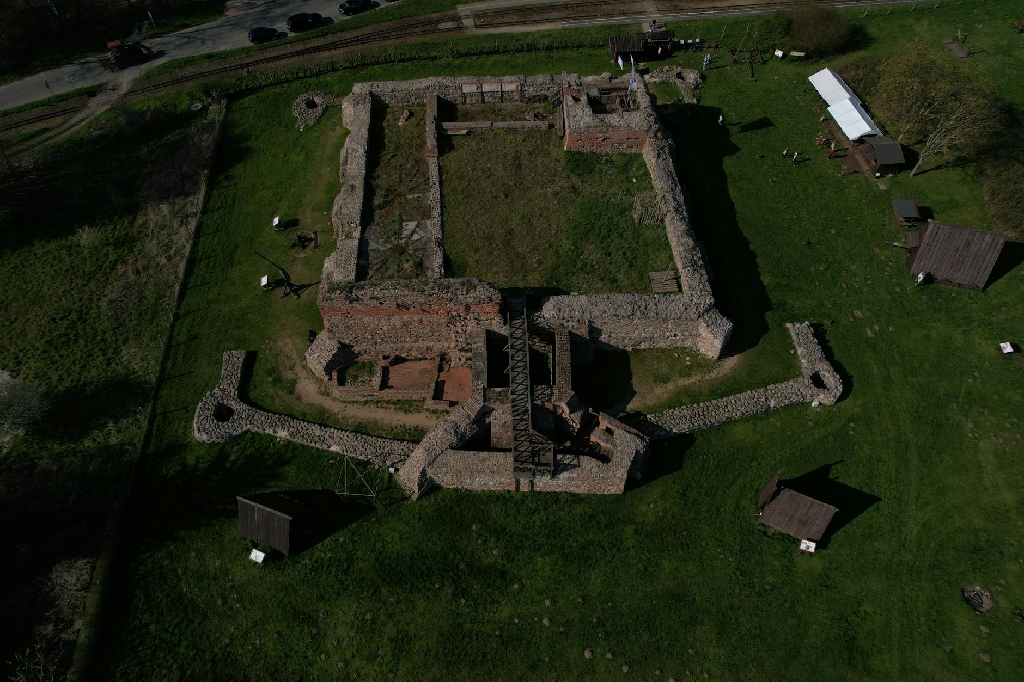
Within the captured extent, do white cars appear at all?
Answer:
No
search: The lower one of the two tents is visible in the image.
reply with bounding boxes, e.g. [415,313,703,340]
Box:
[813,98,885,160]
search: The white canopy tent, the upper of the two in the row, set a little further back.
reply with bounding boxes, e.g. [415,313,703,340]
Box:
[795,67,864,126]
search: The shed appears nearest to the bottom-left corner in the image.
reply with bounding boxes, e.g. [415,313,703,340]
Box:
[233,494,313,557]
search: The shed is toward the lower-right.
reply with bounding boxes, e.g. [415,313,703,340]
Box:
[754,468,841,541]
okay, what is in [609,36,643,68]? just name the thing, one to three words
shed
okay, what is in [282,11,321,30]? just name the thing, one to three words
car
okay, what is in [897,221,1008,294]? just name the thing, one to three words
building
